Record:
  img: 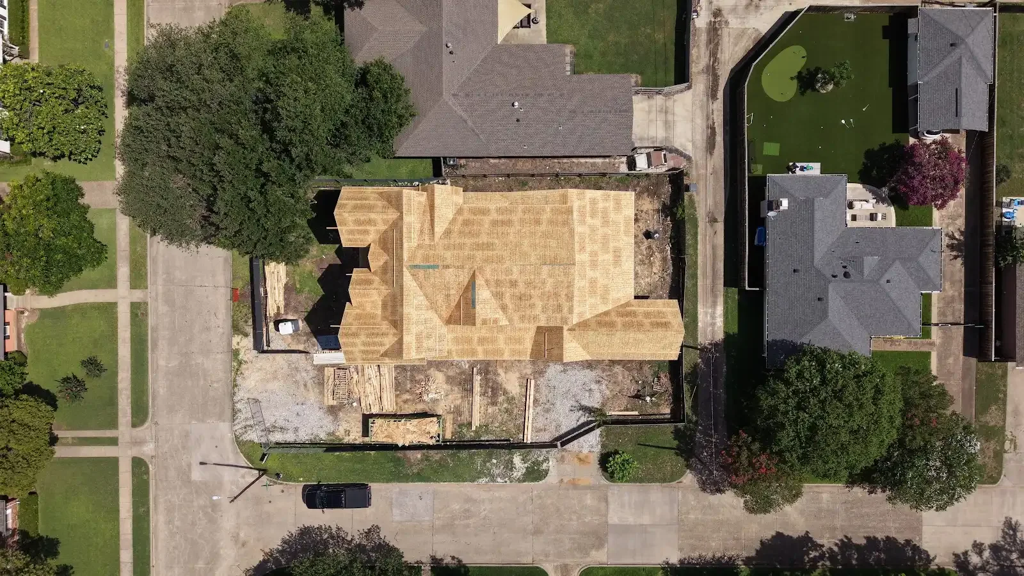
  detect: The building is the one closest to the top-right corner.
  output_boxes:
[896,8,994,133]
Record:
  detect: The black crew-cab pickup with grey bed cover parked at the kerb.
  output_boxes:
[302,486,374,518]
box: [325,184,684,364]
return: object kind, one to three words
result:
house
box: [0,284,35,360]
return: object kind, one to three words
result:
house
